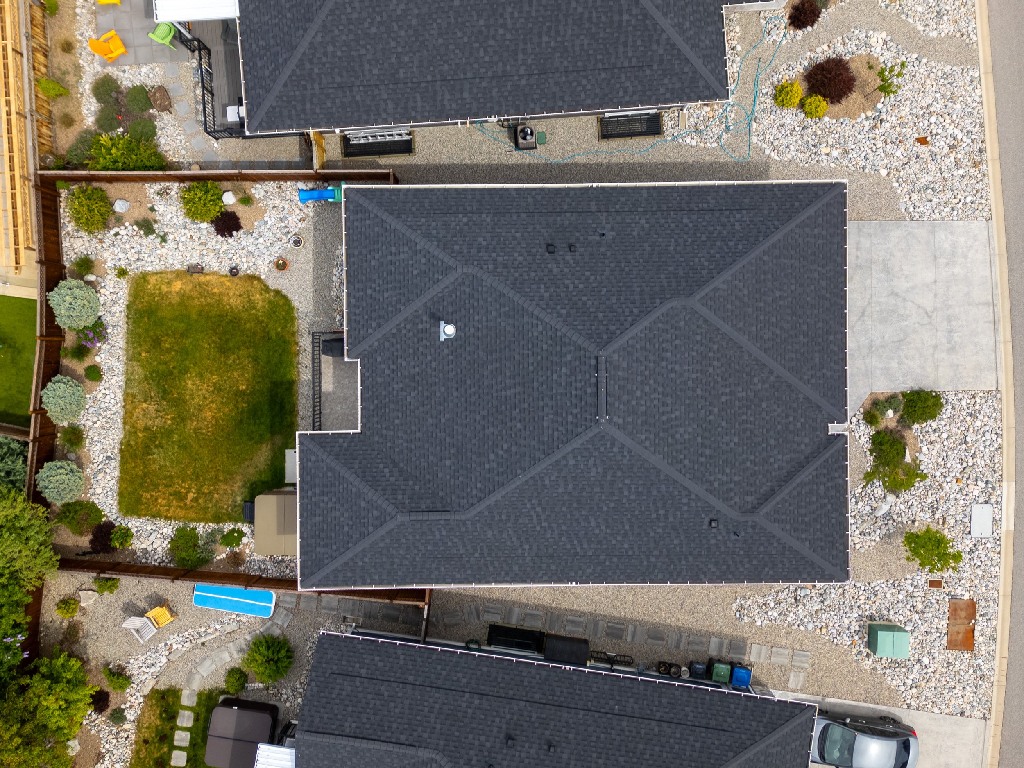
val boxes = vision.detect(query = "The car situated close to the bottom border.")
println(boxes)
[814,707,922,768]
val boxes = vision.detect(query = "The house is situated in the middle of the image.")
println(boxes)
[296,179,851,592]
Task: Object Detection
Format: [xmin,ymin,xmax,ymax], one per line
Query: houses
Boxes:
[296,179,851,592]
[293,618,822,768]
[235,0,777,145]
